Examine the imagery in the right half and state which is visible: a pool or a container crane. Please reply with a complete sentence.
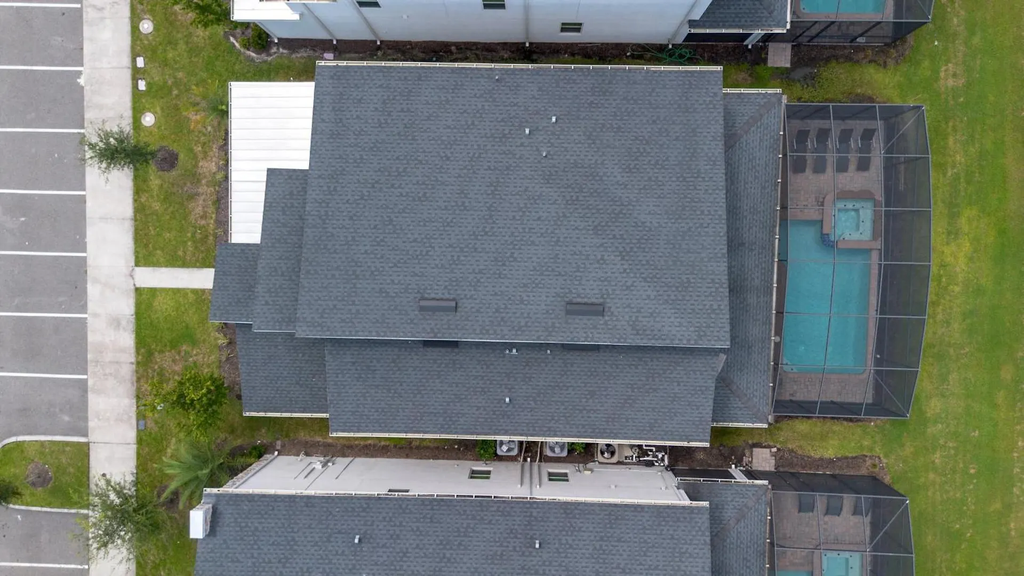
The feature located in the right half is a pool.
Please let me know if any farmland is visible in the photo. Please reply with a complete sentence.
No, the scene doesn't show any farmland.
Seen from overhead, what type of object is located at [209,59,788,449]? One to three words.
house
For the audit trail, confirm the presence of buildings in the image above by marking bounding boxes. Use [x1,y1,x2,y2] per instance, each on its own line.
[188,449,775,576]
[227,0,791,52]
[209,59,788,449]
